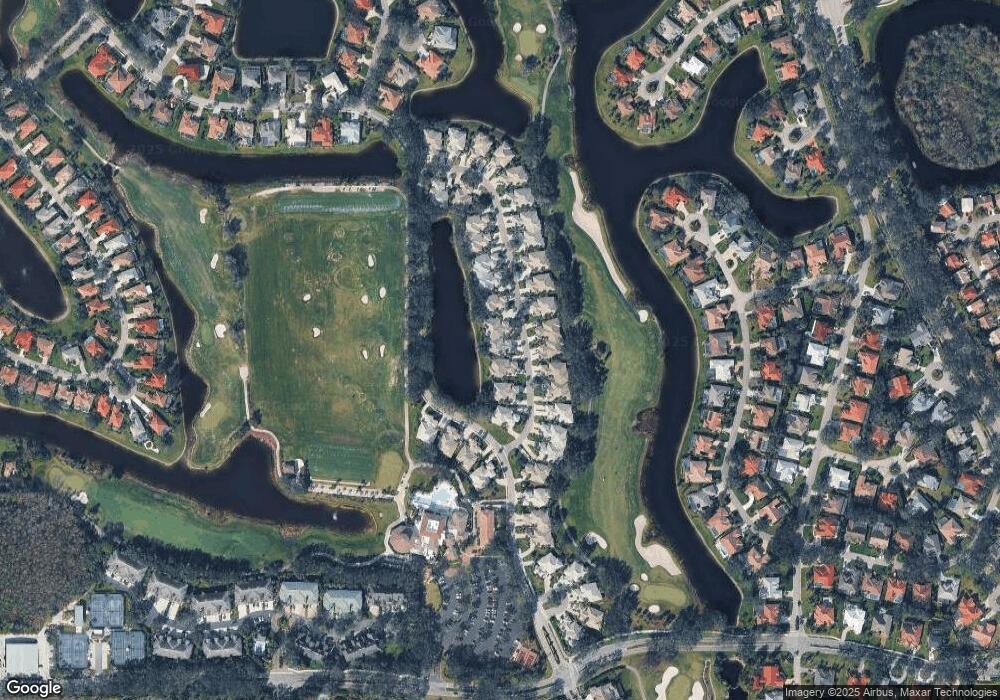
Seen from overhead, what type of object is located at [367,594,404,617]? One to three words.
building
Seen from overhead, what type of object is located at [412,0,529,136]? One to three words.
pond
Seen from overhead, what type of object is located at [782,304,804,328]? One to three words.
house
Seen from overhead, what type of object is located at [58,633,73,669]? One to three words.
tennis court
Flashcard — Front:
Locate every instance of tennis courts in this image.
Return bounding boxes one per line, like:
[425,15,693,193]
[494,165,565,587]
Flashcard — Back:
[111,631,128,665]
[128,631,145,665]
[58,633,73,669]
[91,594,107,628]
[107,594,124,628]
